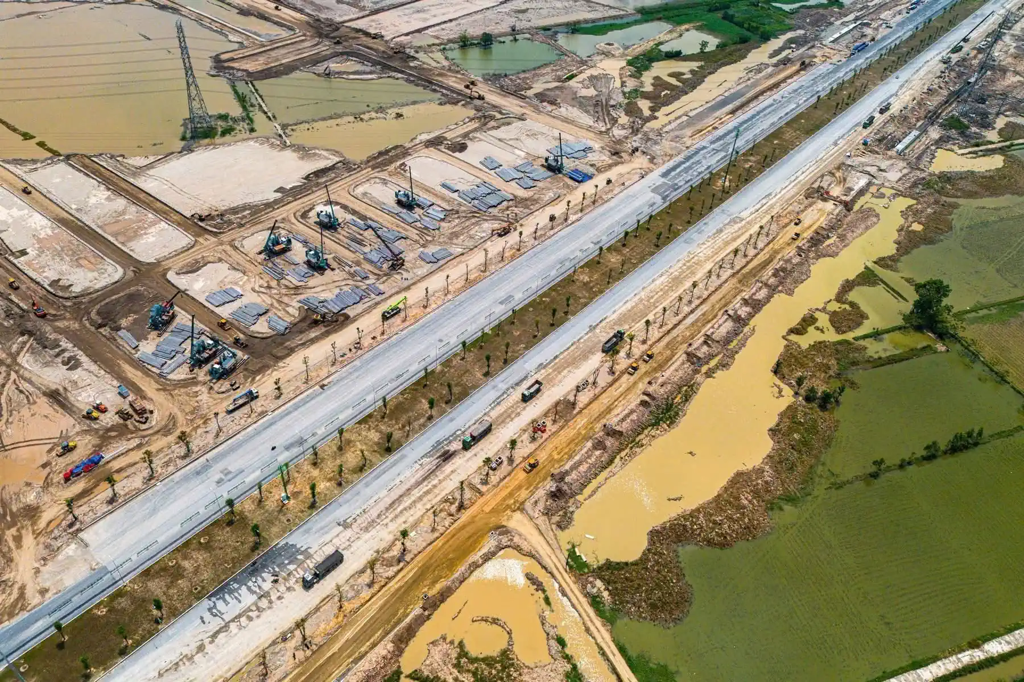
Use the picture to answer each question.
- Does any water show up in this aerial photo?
Yes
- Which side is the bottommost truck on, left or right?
left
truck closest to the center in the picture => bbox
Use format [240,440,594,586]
[520,373,547,400]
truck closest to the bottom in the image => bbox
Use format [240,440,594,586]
[300,542,344,585]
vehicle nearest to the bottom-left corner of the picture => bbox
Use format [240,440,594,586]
[55,438,77,454]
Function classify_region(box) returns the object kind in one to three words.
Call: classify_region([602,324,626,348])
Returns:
truck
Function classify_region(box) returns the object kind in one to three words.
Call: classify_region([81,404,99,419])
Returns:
work vehicle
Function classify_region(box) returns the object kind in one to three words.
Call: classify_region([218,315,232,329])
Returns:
work vehicle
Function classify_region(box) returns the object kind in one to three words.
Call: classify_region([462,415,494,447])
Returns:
truck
